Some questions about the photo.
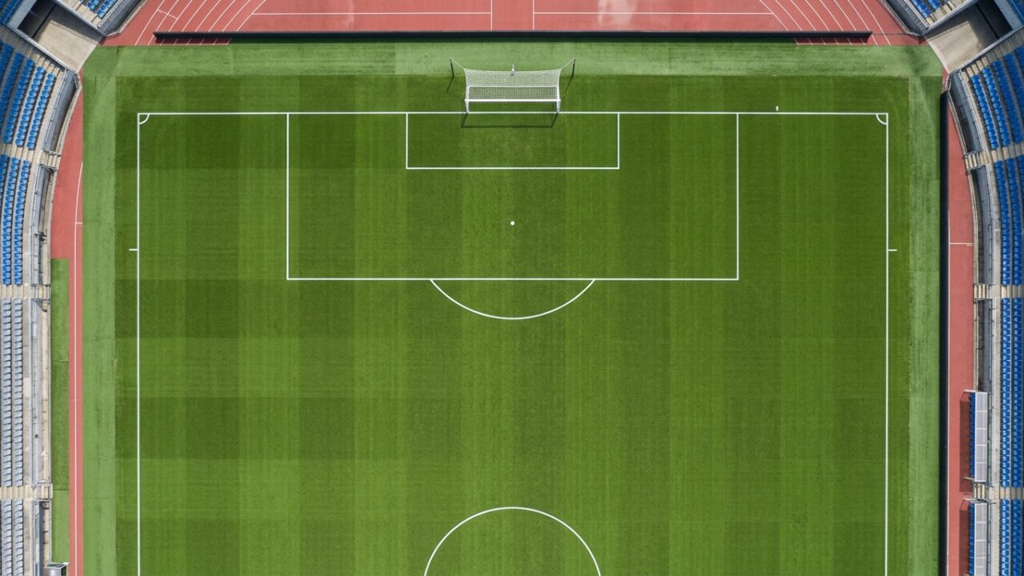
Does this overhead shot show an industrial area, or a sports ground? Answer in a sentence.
This image shows a sports ground.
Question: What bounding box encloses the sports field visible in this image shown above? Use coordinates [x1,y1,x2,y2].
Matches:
[115,76,910,576]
